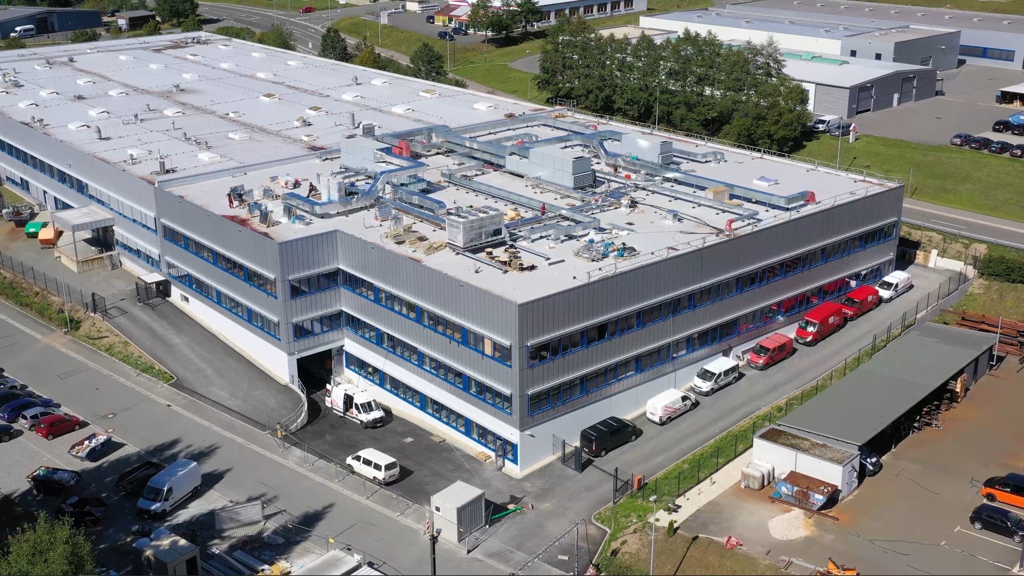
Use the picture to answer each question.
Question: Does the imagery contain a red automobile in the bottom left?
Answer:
Yes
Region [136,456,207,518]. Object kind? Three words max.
van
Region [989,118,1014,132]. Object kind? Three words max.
car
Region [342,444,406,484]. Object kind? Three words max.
van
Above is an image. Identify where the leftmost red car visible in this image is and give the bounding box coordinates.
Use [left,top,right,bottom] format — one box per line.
[30,413,85,441]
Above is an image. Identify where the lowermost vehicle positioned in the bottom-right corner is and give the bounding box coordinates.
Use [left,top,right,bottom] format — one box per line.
[959,511,1024,555]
